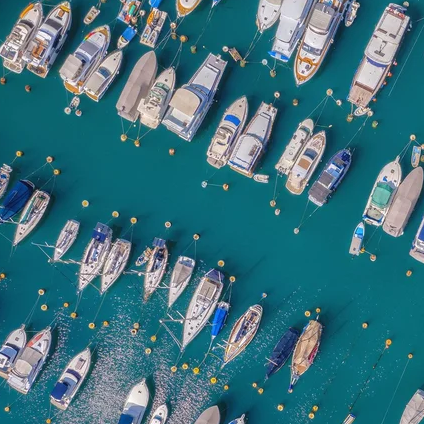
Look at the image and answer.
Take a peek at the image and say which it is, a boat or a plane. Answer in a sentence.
There is a boat in the scene.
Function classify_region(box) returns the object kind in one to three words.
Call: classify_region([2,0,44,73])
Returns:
boat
